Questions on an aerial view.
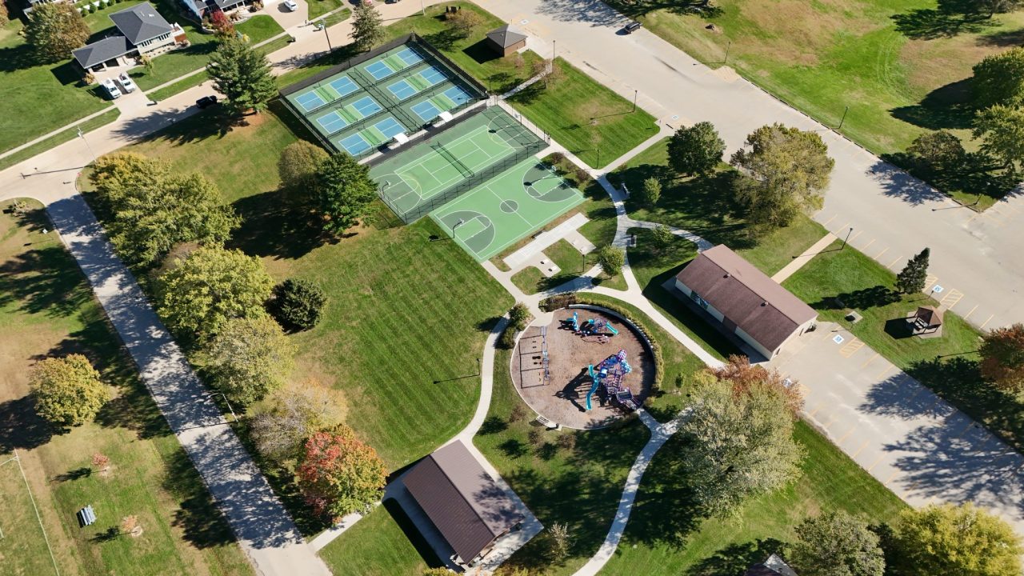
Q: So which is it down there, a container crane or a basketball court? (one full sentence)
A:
It is a basketball court that can be seen here.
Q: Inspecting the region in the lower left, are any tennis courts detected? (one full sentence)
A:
No, no tennis court is visible in the lower left.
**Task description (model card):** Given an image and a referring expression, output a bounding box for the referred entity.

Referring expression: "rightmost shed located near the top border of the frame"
[486,24,527,57]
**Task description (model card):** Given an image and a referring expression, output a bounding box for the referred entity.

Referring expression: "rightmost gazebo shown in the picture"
[910,309,942,338]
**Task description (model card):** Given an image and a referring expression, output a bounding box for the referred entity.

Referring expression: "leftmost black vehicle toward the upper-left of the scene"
[195,95,217,108]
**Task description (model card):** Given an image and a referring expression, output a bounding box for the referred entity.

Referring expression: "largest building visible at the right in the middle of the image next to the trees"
[677,244,818,356]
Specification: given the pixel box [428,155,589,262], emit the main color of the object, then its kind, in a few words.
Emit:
green basketball court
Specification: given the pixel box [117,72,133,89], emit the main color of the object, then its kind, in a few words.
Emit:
white vehicle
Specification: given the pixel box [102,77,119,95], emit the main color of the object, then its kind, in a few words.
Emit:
white car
